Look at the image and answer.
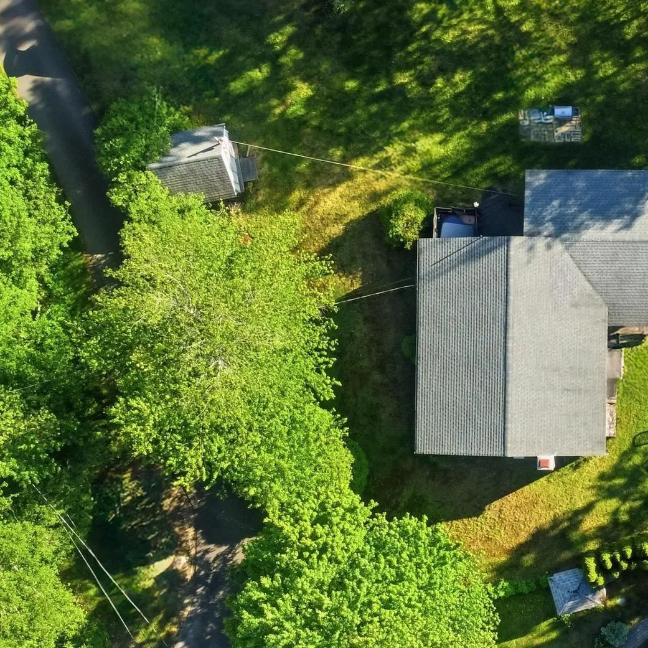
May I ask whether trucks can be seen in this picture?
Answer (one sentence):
No, the scene contains no truck.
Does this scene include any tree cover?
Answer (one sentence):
Yes, tree cover can be seen from above here.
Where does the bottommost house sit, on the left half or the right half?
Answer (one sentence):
You can find the bottommost house on the right side of the picture.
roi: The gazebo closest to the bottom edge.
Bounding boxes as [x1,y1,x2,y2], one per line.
[546,552,607,621]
